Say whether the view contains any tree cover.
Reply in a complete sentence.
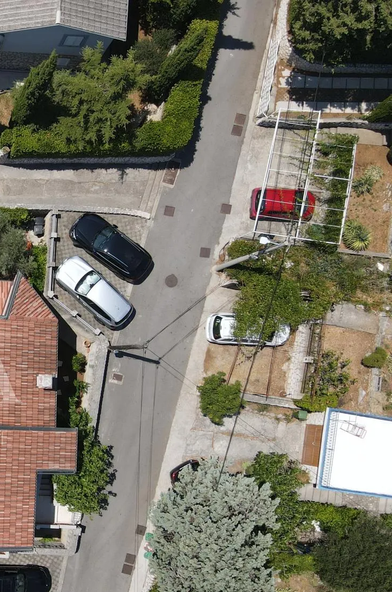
Yes, there is tree cover in the image.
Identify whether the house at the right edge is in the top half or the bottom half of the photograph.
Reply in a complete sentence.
The house at the right edge is in the bottom half of the image.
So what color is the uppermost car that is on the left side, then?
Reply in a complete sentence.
The uppermost car that is on the left side is black.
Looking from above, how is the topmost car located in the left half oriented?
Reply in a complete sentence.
Seen from above, the topmost car located in the left half lies at an angle.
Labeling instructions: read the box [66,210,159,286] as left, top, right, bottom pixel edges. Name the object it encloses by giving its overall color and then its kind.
black car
